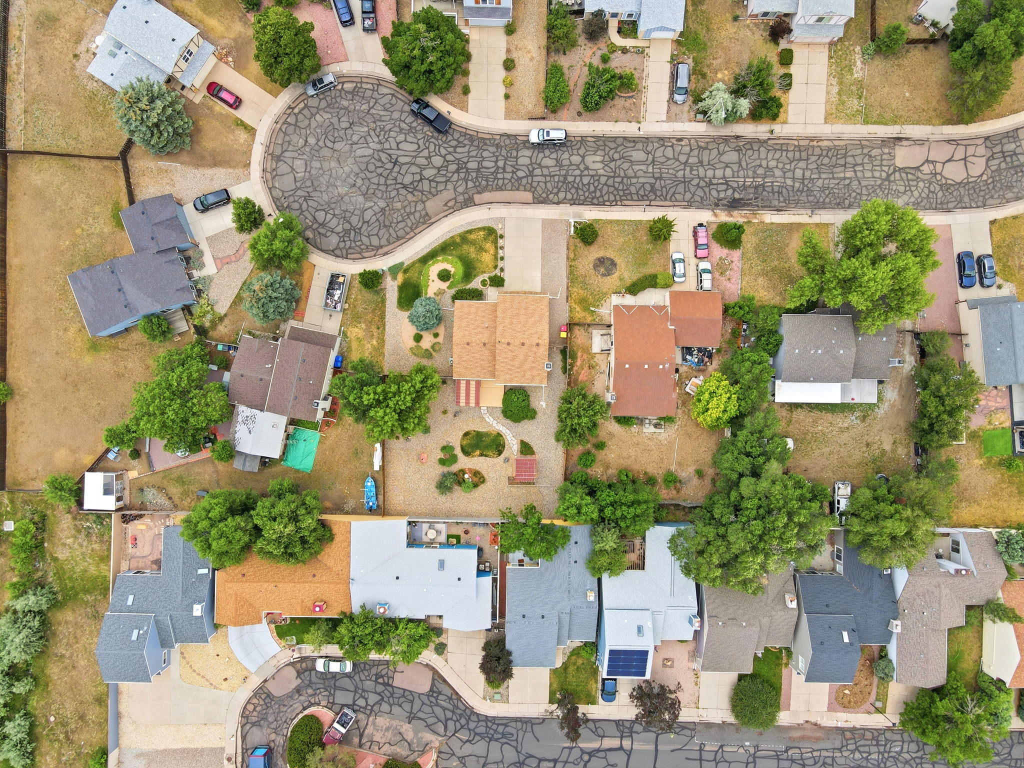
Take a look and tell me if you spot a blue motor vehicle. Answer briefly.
Yes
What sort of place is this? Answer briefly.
residential area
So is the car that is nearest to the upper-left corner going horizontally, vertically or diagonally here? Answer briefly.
diagonally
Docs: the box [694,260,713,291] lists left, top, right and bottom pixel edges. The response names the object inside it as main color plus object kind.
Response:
white car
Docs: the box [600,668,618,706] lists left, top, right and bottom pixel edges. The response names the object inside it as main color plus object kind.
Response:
blue car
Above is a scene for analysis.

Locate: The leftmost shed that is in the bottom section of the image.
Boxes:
[83,471,127,510]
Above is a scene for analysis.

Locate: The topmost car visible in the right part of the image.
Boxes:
[671,62,691,105]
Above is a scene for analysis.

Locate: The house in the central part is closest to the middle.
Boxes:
[444,292,558,407]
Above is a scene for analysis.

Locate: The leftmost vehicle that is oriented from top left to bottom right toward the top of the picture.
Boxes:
[206,80,245,114]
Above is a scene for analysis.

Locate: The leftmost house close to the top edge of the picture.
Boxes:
[86,0,219,93]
